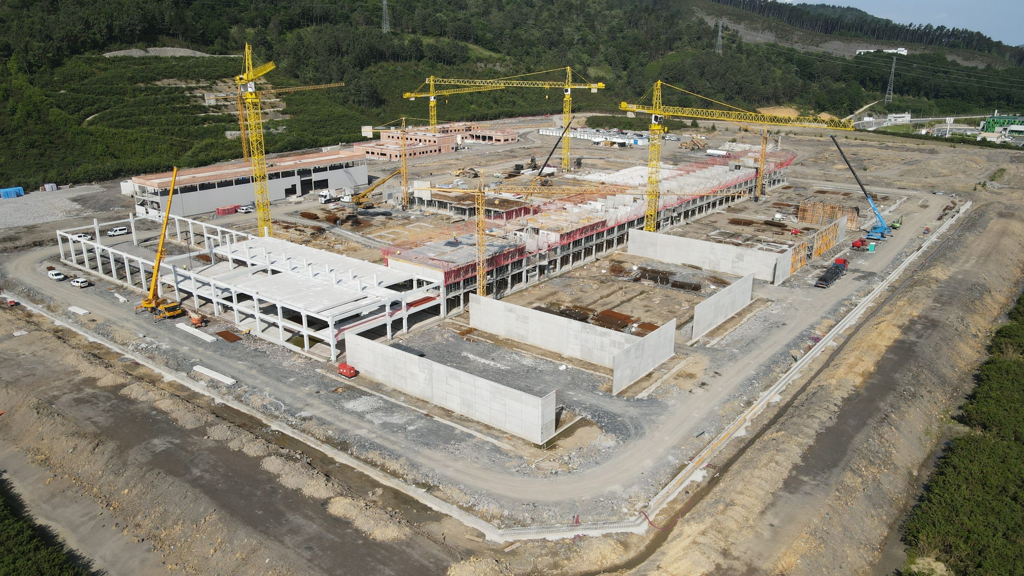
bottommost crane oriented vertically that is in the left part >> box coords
[129,166,192,320]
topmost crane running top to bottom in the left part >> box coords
[244,43,283,240]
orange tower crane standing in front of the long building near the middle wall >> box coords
[416,169,752,298]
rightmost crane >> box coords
[829,136,898,242]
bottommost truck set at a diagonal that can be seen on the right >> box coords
[825,259,851,287]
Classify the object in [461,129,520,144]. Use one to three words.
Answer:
building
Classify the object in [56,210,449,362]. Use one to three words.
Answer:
building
